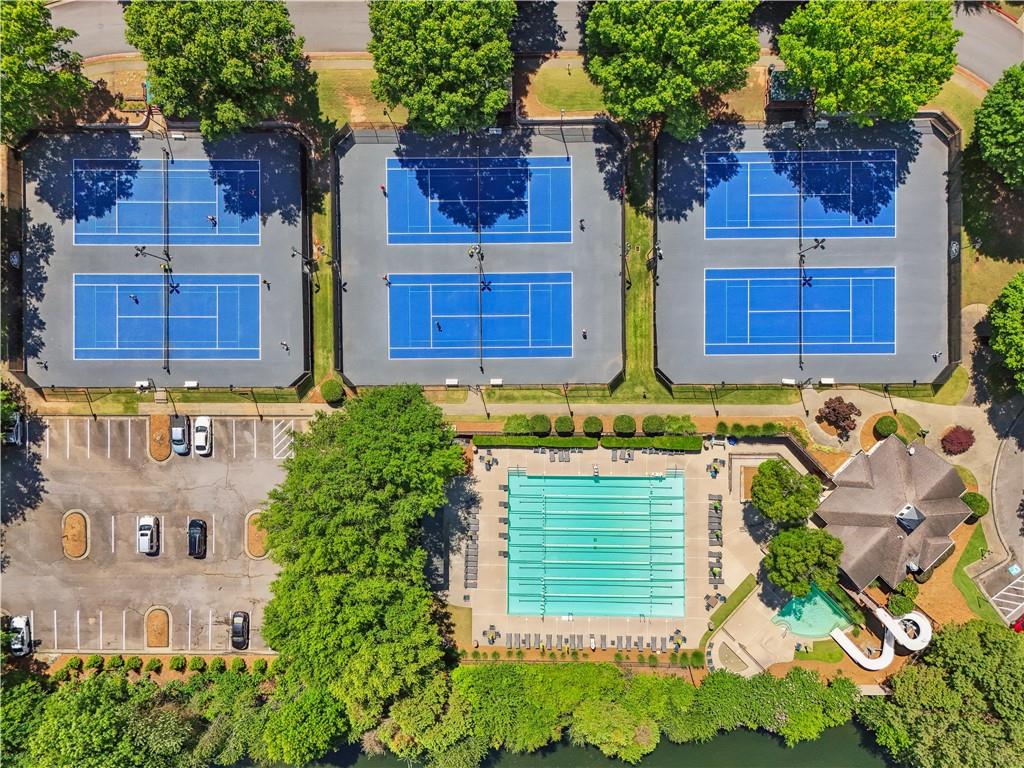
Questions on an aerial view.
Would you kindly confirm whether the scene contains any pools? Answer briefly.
Yes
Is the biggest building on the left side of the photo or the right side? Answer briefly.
right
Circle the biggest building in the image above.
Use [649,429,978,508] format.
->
[810,432,973,591]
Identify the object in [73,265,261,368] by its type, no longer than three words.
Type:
tennis court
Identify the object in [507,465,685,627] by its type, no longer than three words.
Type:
swimming pool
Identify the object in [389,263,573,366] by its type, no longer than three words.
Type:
tennis court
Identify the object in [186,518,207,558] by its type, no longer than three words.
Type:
car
